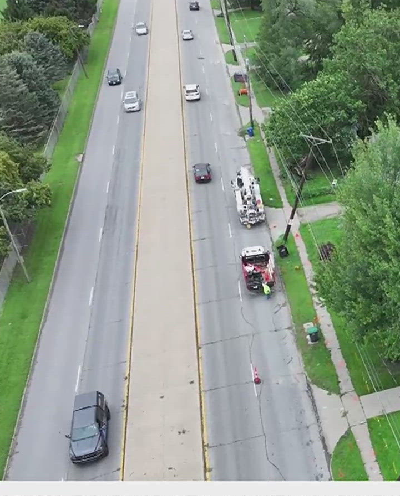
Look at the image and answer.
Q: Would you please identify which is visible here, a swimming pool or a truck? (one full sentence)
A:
Looking from above, you can make out a truck.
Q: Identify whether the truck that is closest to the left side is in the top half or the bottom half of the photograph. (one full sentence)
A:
Seen from above, the truck that is closest to the left side lies in the bottom half of the view.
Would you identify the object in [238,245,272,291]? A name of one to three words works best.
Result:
truck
